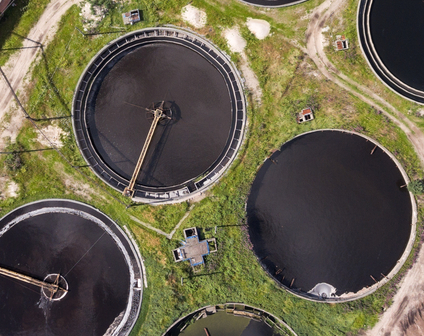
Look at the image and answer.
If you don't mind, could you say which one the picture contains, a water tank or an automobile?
water tank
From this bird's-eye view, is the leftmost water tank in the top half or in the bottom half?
bottom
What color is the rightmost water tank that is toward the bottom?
black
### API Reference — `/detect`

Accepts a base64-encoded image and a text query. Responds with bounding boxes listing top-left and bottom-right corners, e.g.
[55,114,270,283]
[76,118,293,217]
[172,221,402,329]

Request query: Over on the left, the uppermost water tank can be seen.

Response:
[70,27,249,208]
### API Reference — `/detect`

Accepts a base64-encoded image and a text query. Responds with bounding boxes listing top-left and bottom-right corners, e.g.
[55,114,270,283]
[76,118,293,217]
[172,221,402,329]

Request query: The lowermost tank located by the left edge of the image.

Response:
[0,198,147,336]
